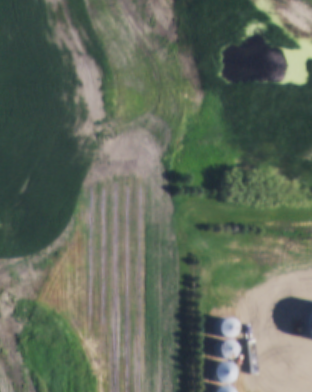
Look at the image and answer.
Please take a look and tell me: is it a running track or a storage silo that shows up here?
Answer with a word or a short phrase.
storage silo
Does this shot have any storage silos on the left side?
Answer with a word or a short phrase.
No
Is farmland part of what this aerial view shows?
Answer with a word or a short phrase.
Yes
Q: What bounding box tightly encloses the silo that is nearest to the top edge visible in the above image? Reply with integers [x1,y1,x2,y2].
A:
[218,317,242,338]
